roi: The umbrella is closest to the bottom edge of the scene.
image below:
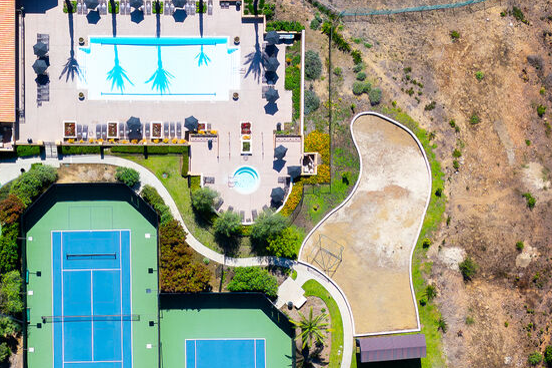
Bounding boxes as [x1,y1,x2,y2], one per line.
[271,188,285,201]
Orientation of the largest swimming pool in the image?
from side to side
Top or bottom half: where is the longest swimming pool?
top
